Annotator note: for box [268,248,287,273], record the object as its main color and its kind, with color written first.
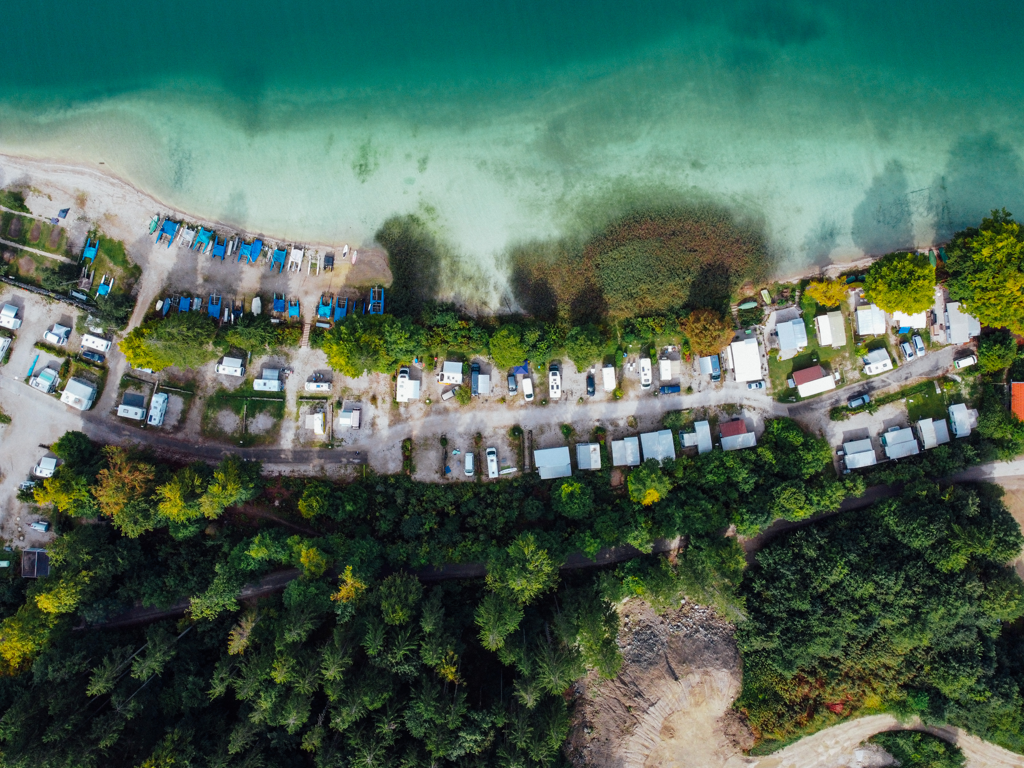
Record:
blue boat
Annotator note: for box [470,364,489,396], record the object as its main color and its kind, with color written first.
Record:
white vehicle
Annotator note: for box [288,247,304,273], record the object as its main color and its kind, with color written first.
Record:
white boat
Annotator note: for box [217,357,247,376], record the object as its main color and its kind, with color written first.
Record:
white camper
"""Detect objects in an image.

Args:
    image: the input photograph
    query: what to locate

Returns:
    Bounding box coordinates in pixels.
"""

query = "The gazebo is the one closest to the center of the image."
[514,360,528,374]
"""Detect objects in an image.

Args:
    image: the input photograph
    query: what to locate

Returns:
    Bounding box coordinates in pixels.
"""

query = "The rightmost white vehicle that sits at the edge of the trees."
[954,355,977,369]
